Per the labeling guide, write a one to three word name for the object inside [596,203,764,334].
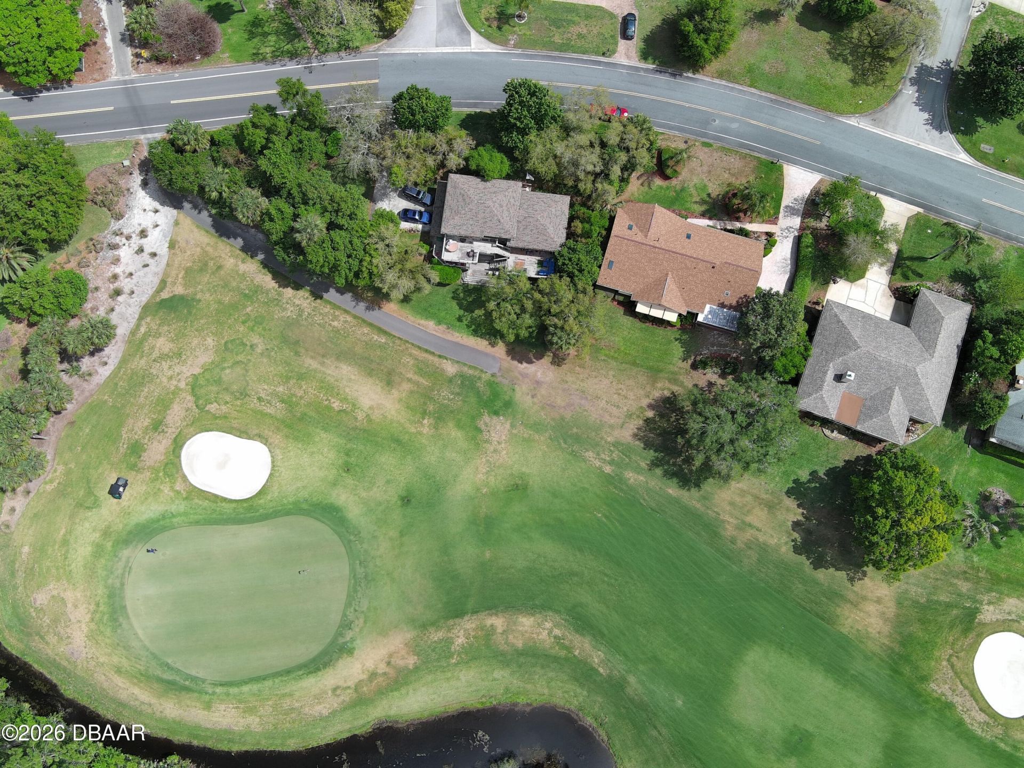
house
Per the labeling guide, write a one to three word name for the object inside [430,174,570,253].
house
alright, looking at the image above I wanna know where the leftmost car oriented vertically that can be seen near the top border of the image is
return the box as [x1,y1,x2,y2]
[623,13,636,41]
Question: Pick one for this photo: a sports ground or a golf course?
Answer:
golf course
